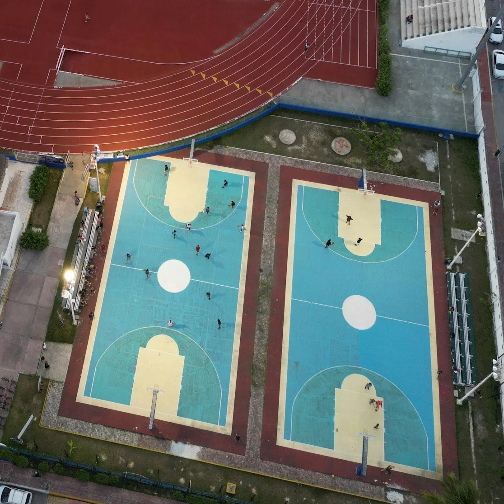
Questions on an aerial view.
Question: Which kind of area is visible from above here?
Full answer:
It's a sports ground.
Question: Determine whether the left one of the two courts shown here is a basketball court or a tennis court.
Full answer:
In the photo, the left one of the two courts shows up as a basketball court.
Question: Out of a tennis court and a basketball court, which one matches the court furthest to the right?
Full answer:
It looks like the court furthest to the right is a basketball court.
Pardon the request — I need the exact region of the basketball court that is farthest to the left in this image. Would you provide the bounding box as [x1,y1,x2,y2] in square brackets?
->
[58,151,269,455]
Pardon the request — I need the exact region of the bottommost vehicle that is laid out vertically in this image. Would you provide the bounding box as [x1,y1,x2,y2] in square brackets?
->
[490,49,504,79]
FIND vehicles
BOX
[490,49,504,79]
[0,483,35,504]
[486,17,504,45]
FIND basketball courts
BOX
[58,151,269,455]
[259,165,458,494]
